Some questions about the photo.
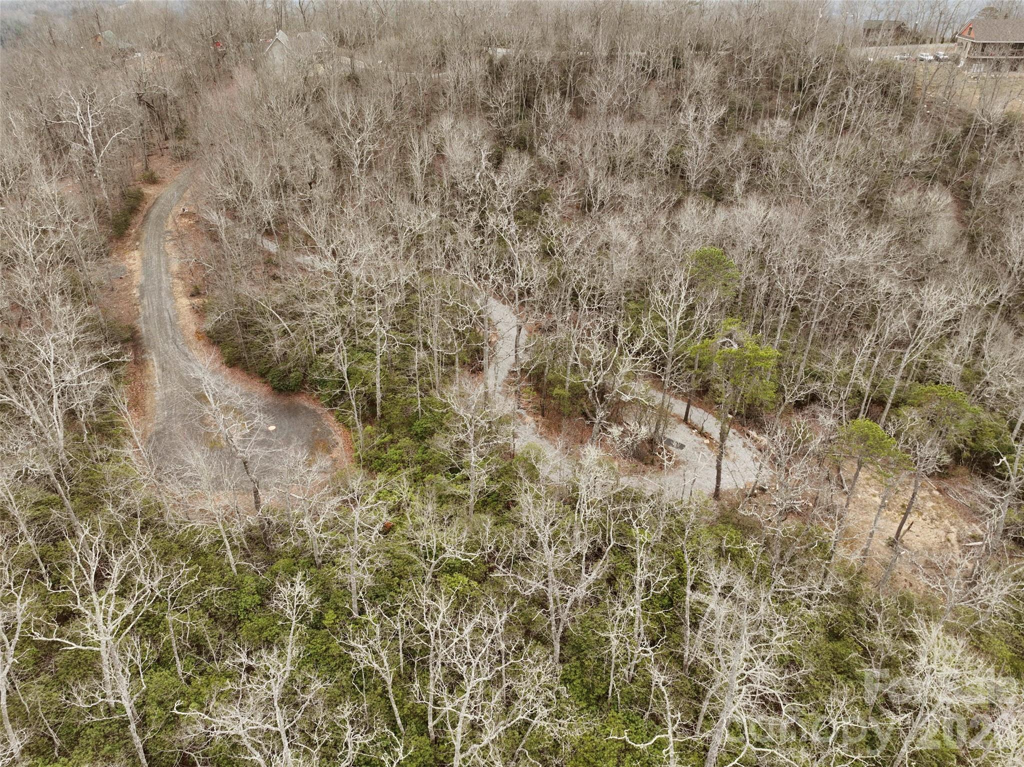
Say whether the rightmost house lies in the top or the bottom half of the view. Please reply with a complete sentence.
You can find the rightmost house in the top half.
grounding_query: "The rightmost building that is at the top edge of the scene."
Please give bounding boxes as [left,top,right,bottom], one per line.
[956,14,1024,77]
